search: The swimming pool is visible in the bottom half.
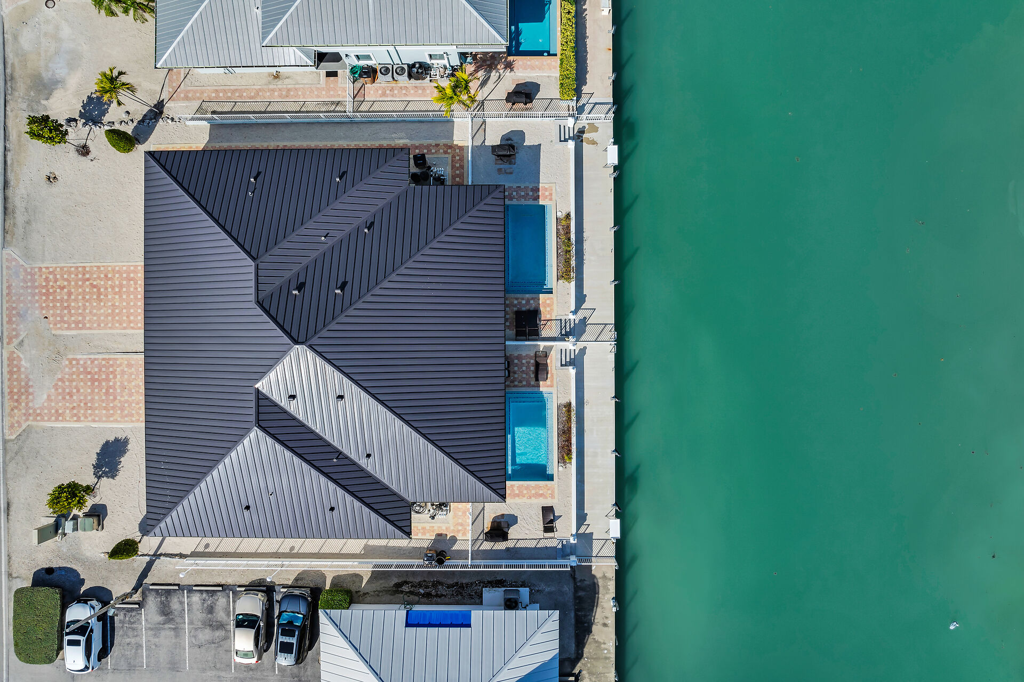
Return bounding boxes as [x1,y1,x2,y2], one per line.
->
[505,389,557,485]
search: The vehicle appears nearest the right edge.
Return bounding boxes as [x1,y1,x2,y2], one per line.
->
[273,587,313,670]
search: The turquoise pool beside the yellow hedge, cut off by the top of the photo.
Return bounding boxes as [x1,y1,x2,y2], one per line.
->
[505,0,560,58]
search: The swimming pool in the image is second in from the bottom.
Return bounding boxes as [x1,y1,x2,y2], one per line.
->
[505,201,556,297]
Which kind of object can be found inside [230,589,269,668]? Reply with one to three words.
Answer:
car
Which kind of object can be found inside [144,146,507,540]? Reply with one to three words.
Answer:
house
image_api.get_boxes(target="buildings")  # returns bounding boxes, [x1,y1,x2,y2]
[144,146,507,540]
[154,0,509,74]
[318,601,561,682]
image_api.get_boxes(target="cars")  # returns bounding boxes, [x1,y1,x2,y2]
[230,589,269,668]
[273,587,313,670]
[64,596,108,674]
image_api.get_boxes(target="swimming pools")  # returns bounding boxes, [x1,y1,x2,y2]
[505,0,560,58]
[505,201,556,297]
[505,389,557,485]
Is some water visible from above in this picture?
Yes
